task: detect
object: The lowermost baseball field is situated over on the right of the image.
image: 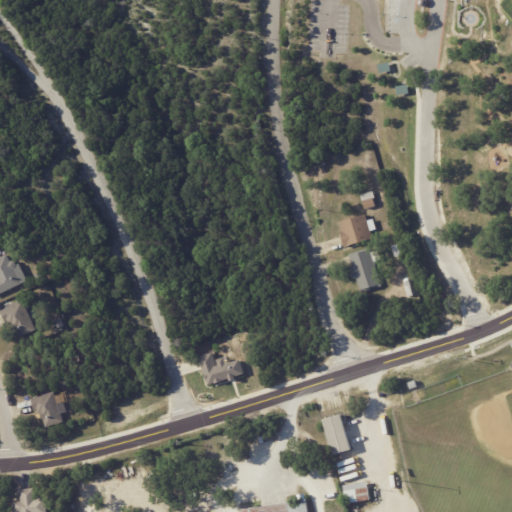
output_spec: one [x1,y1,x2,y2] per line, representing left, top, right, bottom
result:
[395,370,512,512]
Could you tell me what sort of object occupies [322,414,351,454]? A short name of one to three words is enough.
building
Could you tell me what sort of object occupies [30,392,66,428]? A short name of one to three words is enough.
house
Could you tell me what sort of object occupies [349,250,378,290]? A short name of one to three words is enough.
house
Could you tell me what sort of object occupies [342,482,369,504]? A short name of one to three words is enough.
building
